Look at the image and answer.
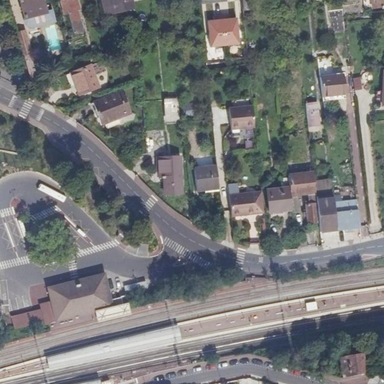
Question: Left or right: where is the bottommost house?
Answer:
right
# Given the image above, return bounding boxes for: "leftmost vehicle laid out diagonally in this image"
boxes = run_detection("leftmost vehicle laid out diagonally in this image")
[38,182,66,202]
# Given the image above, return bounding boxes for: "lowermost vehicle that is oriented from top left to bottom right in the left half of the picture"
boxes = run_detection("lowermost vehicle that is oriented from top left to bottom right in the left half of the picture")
[74,225,99,248]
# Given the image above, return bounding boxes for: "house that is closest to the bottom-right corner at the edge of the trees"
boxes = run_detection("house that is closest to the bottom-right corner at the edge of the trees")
[340,354,368,377]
